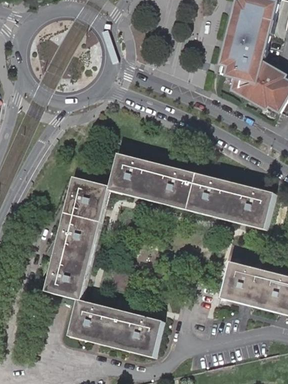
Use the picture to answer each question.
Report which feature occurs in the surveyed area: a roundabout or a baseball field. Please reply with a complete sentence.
There is a roundabout in the scene.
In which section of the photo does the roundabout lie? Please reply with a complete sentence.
You can find the roundabout in the top left area of the picture.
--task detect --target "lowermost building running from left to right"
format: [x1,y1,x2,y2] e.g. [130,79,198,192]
[66,300,165,356]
